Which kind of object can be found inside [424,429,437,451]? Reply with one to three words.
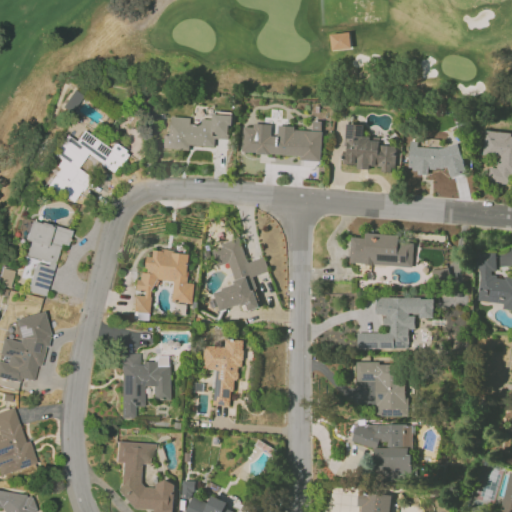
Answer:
swimming pool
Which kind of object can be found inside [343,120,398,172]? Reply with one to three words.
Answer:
house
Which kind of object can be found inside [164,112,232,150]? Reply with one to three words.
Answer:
house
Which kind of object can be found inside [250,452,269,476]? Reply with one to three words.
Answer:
swimming pool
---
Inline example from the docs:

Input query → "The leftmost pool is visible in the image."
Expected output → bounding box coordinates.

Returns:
[42,206,69,220]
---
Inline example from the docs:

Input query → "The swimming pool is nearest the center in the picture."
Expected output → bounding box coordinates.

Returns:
[207,272,225,293]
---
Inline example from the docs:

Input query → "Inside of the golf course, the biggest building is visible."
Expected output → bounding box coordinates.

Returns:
[330,32,352,51]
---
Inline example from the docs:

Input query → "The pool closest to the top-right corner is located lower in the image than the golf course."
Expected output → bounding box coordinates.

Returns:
[366,114,392,128]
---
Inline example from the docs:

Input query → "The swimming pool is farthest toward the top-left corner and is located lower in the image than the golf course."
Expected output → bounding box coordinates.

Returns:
[82,104,103,124]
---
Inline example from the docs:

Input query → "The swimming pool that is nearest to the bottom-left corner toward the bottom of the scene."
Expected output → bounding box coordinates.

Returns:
[164,442,178,470]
